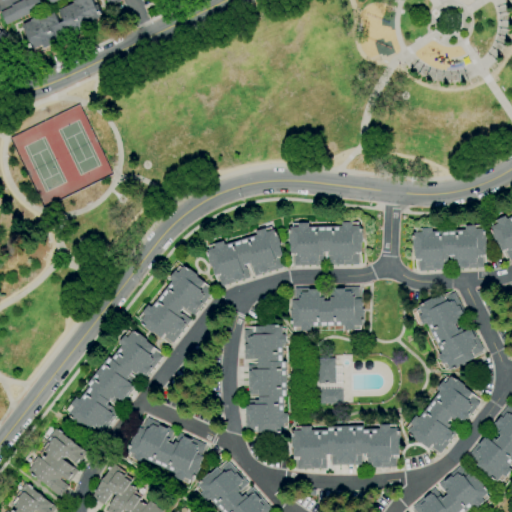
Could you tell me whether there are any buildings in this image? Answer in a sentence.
Yes, the picture does show a building.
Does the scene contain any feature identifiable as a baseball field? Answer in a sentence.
No, this view has no baseball field in it.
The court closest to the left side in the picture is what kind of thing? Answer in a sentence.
The court closest to the left side in the image is a tennis court.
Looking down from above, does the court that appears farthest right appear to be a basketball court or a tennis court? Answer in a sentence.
It looks like the court that appears farthest right is a tennis court.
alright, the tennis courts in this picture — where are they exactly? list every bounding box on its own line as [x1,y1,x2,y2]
[12,121,78,202]
[46,104,112,188]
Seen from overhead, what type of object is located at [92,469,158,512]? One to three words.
building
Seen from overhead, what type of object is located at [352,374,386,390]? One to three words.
swimming pool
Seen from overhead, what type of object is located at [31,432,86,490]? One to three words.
building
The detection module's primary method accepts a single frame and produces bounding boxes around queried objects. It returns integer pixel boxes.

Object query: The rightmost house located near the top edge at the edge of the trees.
[22,0,100,50]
